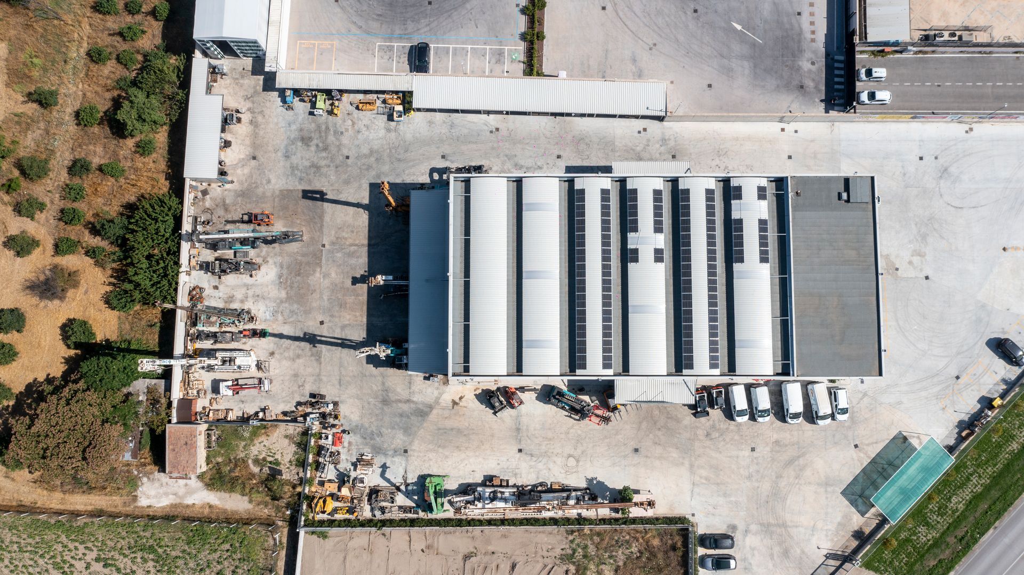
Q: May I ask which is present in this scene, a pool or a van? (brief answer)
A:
van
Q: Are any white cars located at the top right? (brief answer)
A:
Yes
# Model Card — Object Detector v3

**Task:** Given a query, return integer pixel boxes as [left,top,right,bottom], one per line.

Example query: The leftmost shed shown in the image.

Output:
[122,424,147,461]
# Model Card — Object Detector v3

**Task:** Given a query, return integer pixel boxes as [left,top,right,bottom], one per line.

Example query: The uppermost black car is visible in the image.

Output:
[413,42,430,72]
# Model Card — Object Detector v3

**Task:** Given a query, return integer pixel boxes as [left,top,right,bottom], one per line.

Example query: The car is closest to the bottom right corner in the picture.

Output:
[999,340,1024,372]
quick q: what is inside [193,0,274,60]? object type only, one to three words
building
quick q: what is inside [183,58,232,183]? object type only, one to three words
shed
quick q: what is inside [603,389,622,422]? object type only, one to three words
work vehicle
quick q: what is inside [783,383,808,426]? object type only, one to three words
vehicle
